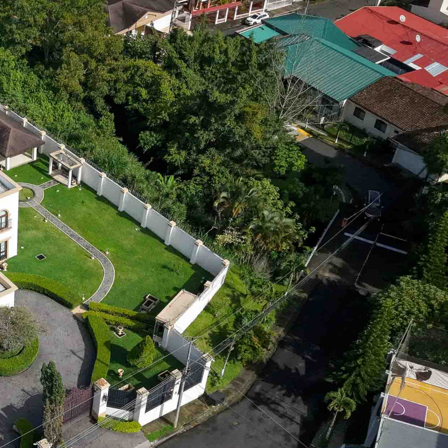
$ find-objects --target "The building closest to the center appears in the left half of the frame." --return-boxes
[154,289,199,352]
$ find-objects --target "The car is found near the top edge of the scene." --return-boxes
[246,7,280,26]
